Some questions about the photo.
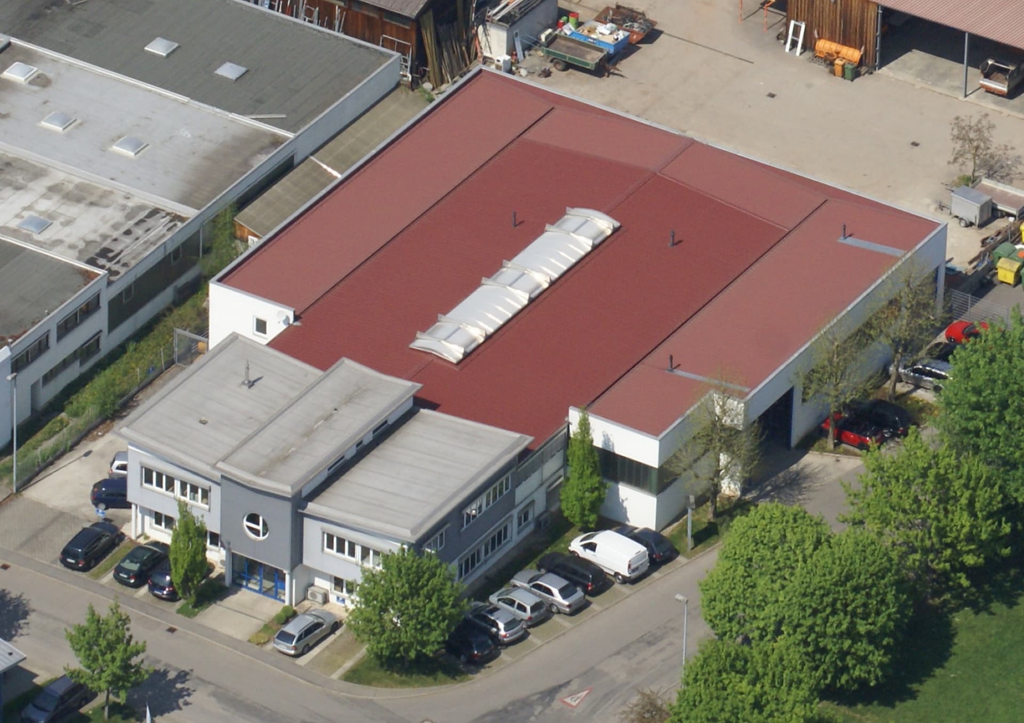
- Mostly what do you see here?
buildings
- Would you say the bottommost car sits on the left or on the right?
left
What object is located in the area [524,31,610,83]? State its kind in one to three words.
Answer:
trailer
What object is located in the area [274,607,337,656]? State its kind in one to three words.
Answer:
car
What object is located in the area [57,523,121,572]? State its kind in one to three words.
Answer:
car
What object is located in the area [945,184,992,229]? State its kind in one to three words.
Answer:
trailer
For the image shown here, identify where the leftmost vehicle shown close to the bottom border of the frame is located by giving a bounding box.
[22,678,88,723]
